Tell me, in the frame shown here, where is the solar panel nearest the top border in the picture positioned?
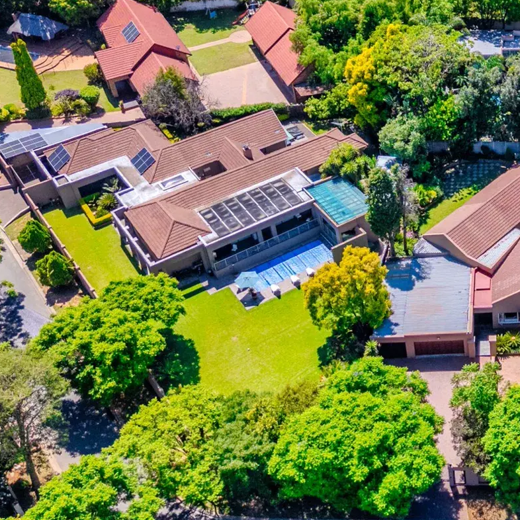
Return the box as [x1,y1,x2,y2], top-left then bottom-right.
[121,20,140,42]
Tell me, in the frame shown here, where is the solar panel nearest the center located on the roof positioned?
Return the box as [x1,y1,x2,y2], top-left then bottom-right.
[130,148,155,174]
